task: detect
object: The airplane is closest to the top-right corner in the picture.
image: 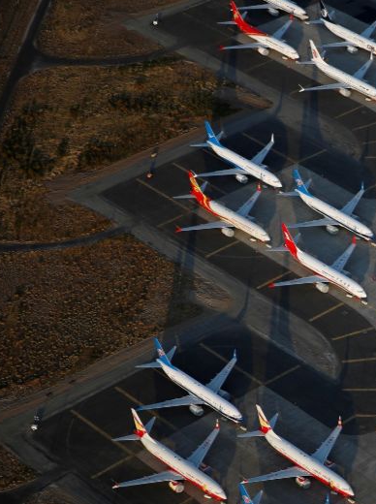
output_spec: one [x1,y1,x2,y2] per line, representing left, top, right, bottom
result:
[309,2,376,56]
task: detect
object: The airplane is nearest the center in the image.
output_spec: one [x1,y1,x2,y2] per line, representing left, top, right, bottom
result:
[174,172,270,242]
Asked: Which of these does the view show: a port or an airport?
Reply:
airport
